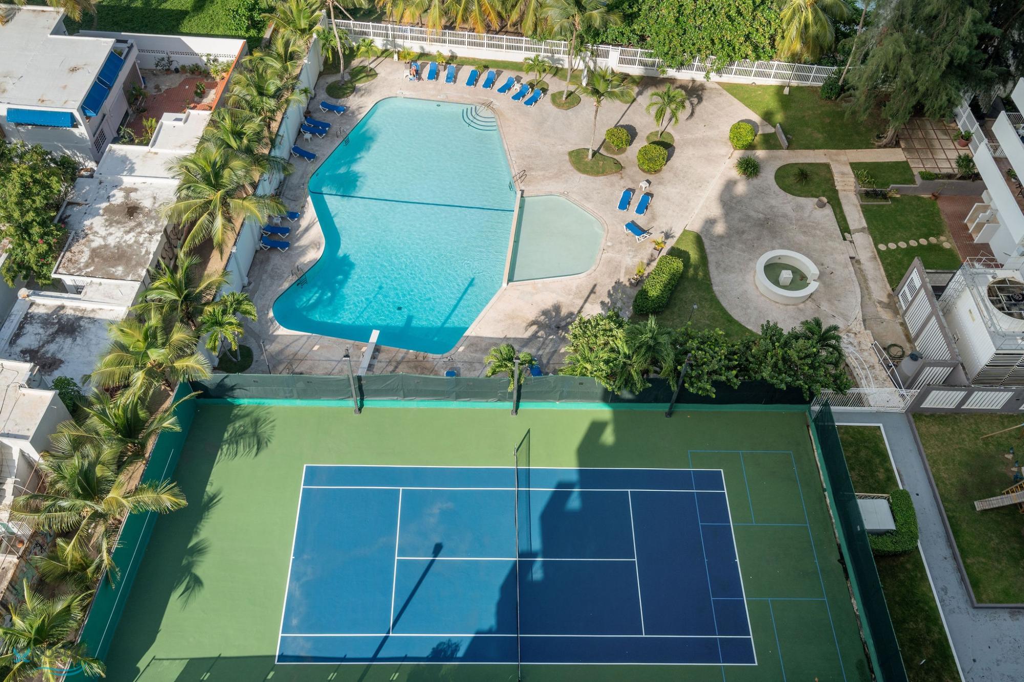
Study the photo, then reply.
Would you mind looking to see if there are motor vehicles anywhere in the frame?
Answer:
No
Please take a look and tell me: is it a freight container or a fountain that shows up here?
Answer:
fountain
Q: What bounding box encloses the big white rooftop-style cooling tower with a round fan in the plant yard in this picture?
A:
[929,257,1024,395]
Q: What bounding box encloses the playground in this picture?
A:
[973,422,1024,515]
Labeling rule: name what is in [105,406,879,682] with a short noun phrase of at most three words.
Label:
tennis court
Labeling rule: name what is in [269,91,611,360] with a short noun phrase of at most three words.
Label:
swimming pool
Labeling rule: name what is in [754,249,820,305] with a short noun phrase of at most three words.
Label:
fountain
